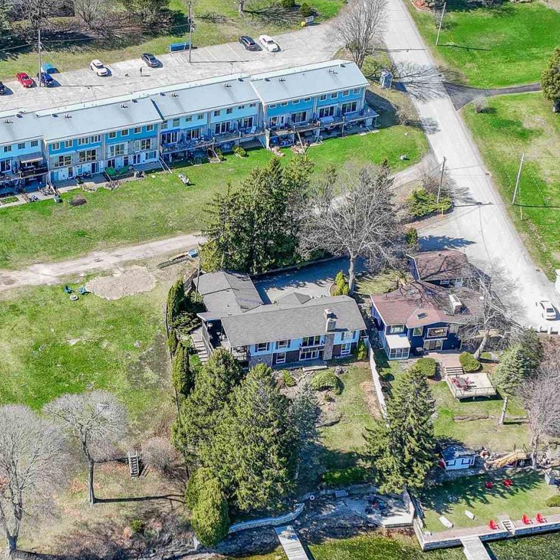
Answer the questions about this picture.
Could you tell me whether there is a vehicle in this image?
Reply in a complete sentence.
Yes, there is a vehicle in the image.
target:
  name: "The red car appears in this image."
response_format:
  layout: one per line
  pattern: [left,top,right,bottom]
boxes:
[13,71,35,86]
